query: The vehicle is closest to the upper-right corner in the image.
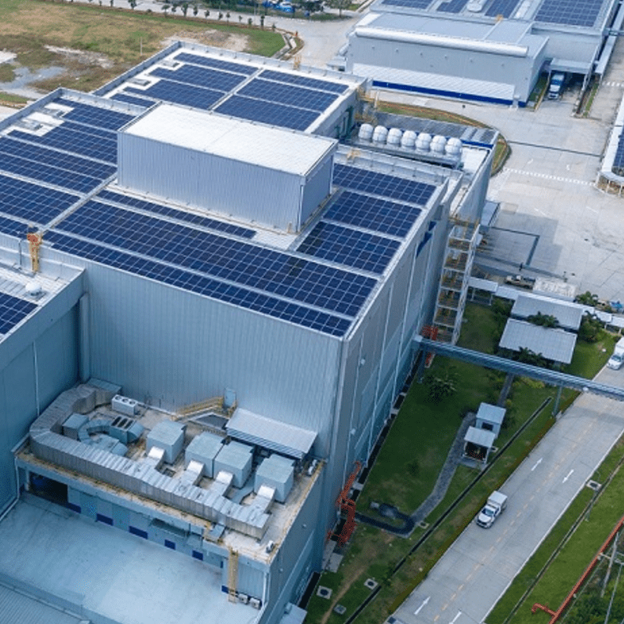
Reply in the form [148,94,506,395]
[551,69,569,95]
